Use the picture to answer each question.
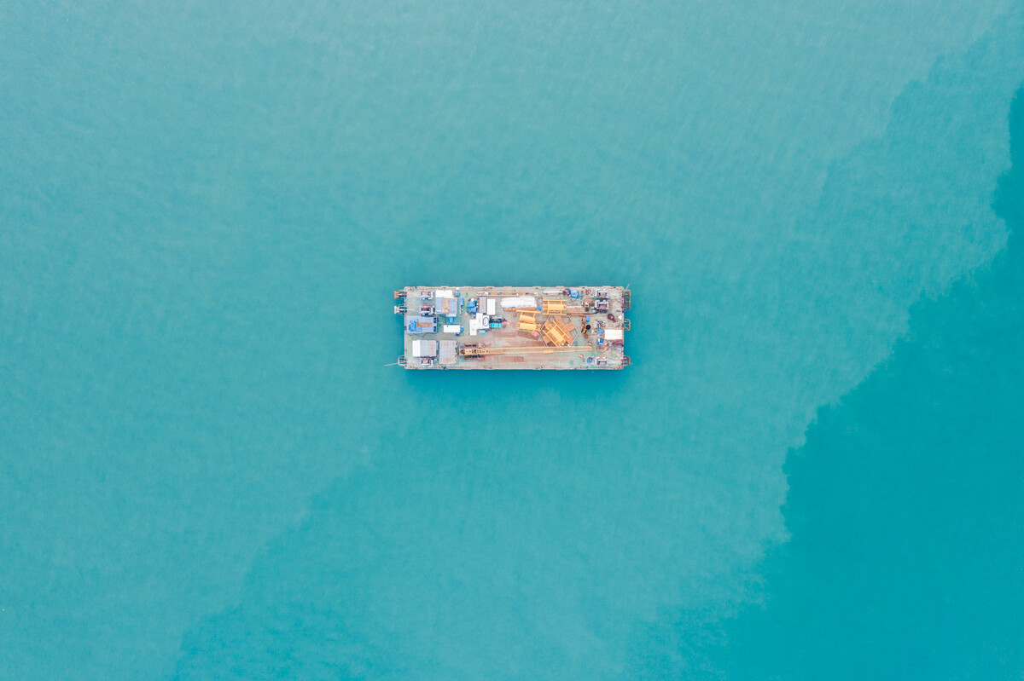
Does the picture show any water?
Yes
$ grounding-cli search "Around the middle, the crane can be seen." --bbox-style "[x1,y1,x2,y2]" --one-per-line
[459,342,592,360]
